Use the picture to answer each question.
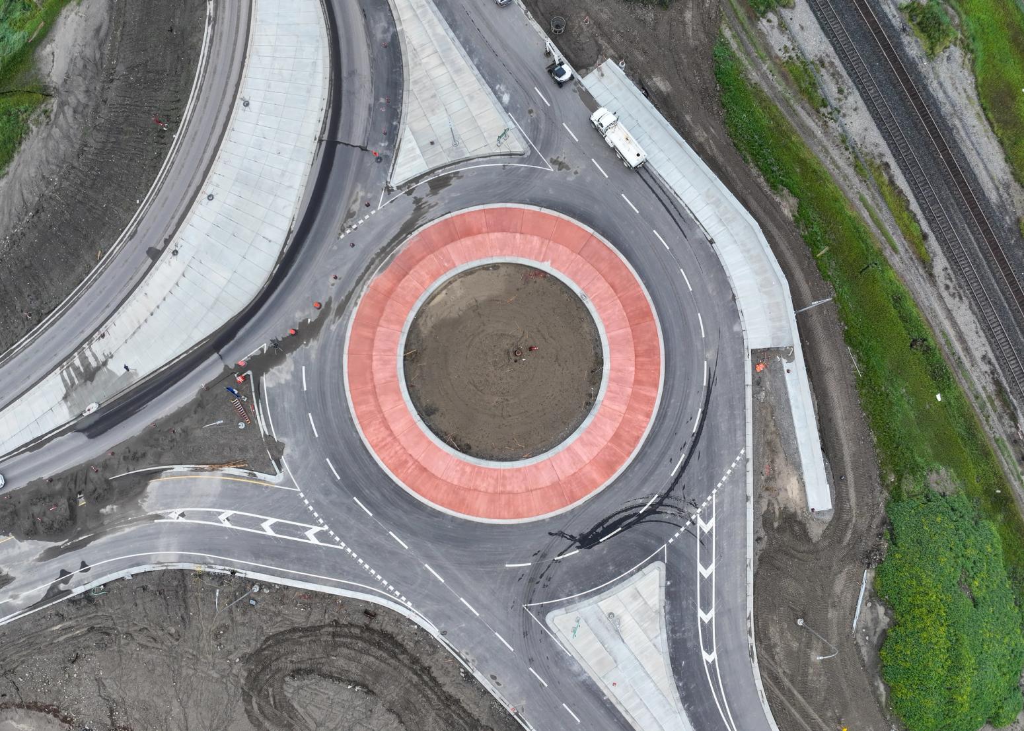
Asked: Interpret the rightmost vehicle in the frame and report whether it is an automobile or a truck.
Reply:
truck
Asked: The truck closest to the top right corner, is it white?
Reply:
Yes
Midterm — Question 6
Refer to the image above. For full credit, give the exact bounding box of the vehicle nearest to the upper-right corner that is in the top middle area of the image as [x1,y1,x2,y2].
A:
[589,110,646,173]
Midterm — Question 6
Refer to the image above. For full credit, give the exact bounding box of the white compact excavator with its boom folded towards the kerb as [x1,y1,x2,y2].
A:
[546,36,575,89]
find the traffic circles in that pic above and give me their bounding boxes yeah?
[284,87,746,723]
